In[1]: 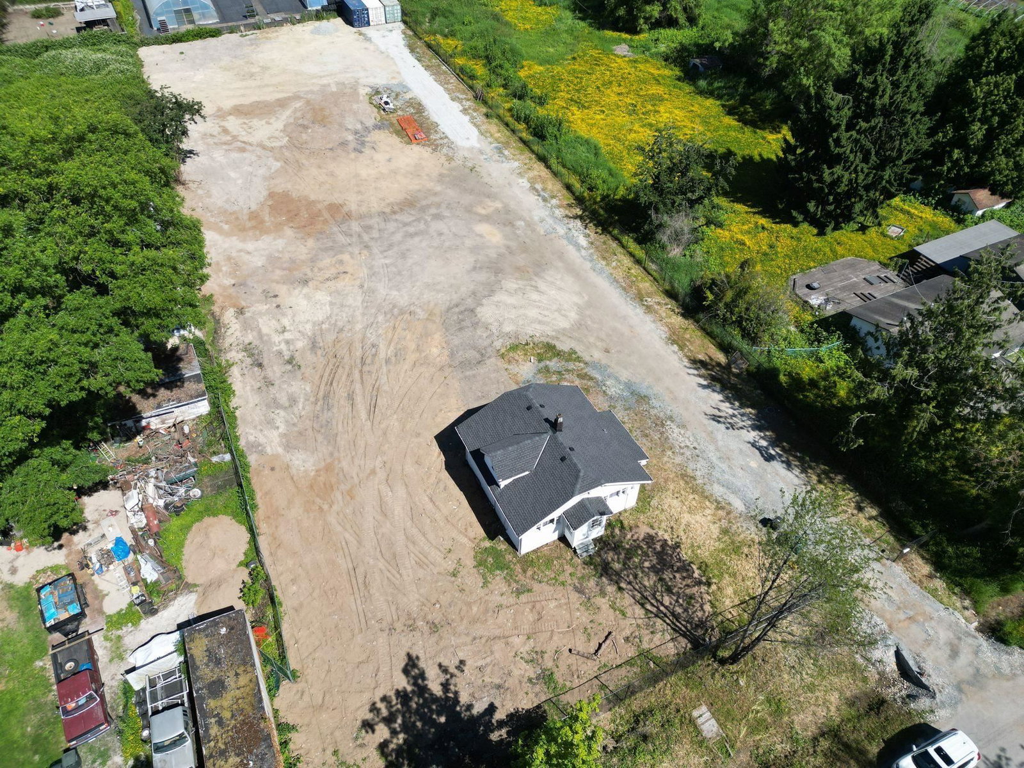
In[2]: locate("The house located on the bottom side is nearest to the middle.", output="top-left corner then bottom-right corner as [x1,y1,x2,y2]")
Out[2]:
[455,382,652,558]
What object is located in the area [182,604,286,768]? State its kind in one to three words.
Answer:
shed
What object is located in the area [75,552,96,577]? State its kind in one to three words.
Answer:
work vehicle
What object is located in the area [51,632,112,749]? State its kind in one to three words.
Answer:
truck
